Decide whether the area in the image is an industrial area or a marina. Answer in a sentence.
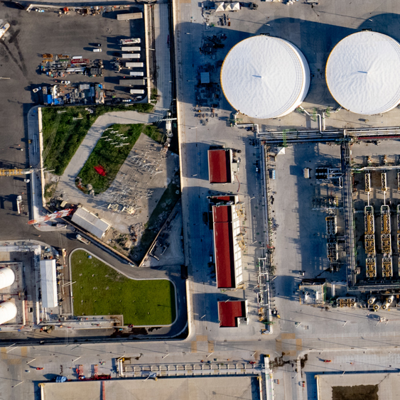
The area seen from above is an industrial area.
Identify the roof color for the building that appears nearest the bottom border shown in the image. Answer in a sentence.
The roof over the building that appears nearest the bottom border appears red.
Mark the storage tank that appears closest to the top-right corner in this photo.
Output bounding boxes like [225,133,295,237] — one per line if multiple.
[326,28,400,116]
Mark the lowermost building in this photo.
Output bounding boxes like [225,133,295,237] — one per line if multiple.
[218,298,249,328]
